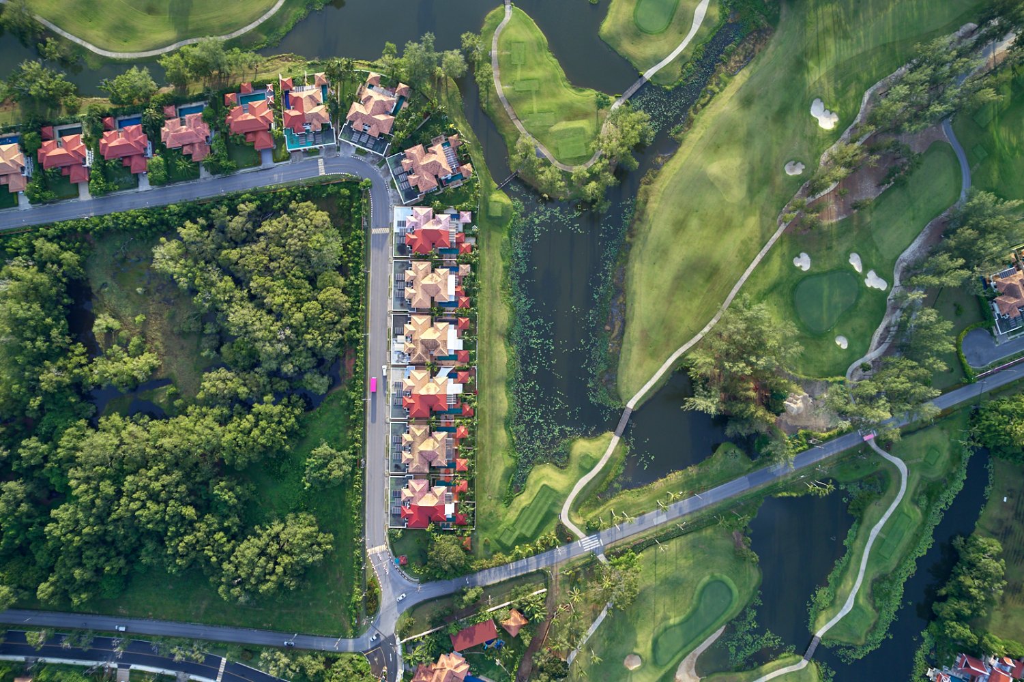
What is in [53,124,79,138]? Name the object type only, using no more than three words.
swimming pool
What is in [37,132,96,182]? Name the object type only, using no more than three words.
house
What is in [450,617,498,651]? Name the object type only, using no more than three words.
building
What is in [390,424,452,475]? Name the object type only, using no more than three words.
house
